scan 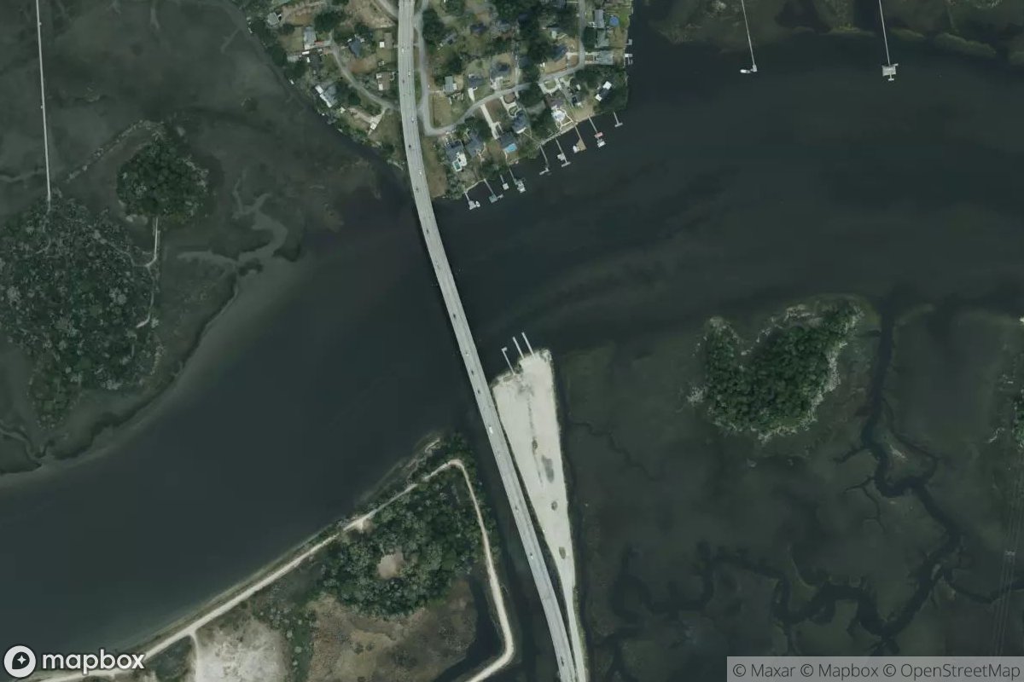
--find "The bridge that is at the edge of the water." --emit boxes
[399,0,578,682]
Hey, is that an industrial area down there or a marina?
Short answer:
marina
